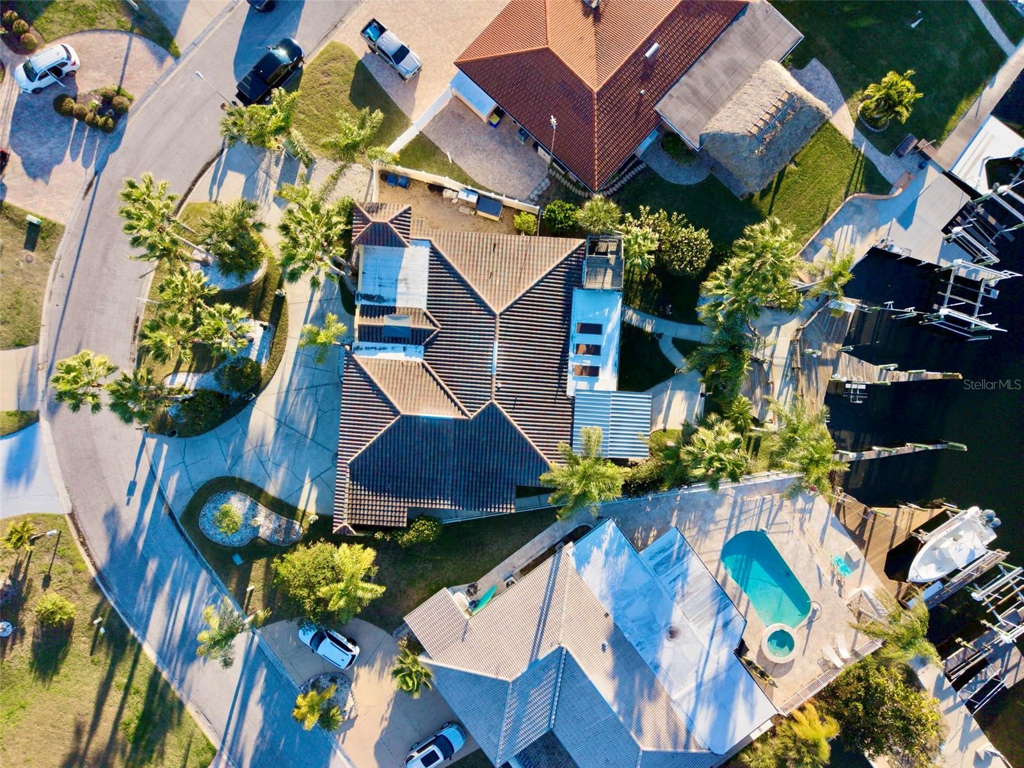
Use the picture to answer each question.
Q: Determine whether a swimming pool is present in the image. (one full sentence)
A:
Yes, a swimming pool appears in the view.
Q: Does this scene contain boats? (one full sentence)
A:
Yes, you can see a boat in this photo.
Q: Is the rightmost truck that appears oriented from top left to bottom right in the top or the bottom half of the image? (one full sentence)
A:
Seen from above, the rightmost truck that appears oriented from top left to bottom right lies in the top half of the view.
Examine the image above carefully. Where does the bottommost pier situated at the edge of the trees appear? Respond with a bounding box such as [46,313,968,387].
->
[942,600,1024,688]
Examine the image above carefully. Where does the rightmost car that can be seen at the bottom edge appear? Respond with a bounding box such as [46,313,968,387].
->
[403,722,467,768]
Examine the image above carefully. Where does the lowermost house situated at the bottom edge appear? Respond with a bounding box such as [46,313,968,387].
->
[404,516,780,768]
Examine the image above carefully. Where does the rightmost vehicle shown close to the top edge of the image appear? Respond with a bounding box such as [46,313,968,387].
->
[352,9,428,87]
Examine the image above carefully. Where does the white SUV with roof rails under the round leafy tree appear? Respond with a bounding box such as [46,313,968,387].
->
[297,621,362,674]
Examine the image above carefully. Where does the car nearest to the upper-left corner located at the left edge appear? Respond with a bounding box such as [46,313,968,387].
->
[15,43,87,95]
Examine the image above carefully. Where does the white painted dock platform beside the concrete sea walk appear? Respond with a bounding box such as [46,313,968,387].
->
[948,116,1024,194]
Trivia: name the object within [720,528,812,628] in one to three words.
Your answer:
swimming pool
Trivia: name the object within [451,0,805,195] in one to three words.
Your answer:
house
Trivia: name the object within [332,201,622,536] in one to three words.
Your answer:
house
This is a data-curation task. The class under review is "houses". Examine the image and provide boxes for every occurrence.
[404,516,780,768]
[332,201,622,536]
[451,0,805,195]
